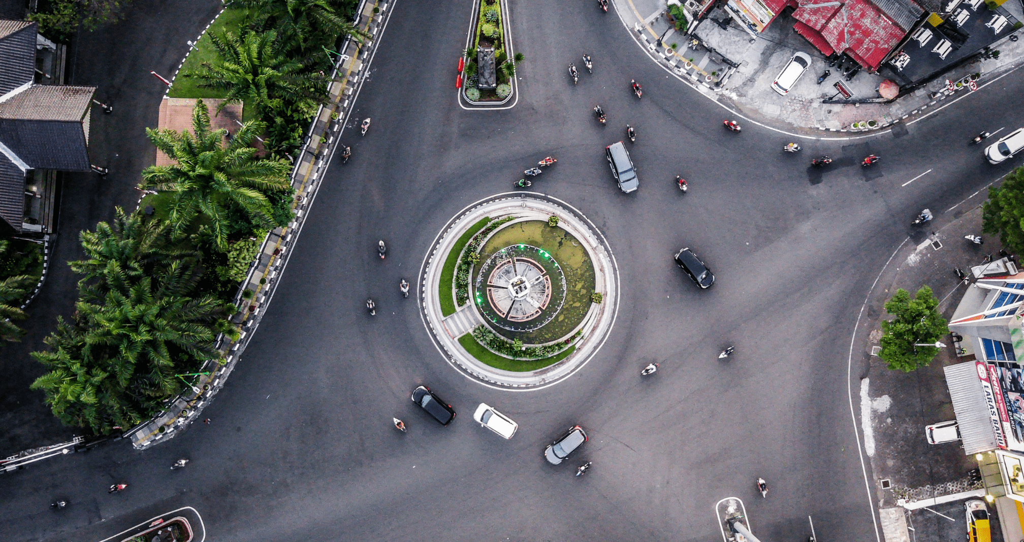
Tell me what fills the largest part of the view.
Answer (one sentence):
Most of the picture is covered by paved ground.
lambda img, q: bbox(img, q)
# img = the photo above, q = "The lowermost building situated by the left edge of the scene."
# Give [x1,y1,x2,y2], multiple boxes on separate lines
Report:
[0,18,114,235]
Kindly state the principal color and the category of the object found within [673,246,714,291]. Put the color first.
black car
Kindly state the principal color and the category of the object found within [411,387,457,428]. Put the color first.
black car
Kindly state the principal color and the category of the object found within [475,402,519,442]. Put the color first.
white car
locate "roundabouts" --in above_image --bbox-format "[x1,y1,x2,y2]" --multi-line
[423,197,614,387]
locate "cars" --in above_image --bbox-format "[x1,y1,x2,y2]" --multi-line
[411,387,457,428]
[981,123,1024,164]
[673,246,714,291]
[771,51,810,97]
[963,499,998,542]
[605,142,638,194]
[475,402,519,442]
[923,420,963,445]
[545,425,588,465]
